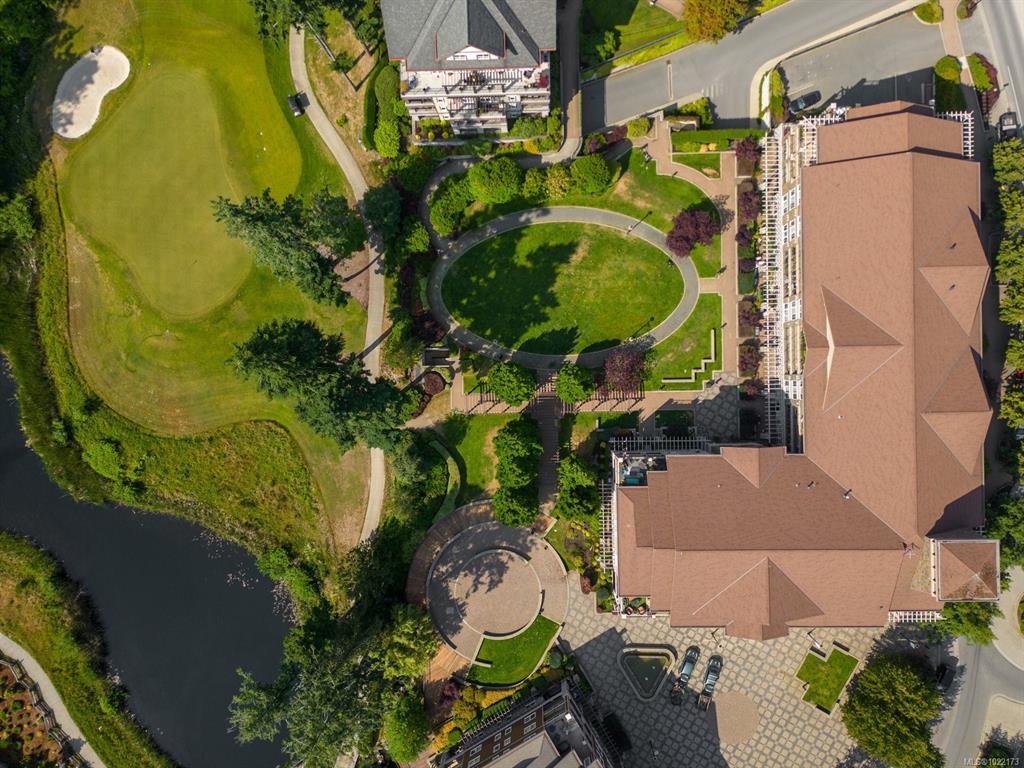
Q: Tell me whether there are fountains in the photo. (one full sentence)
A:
Yes, this view includes a fountain.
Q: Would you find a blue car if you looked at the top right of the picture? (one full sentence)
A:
No, at the top right of the picture there is no blue car.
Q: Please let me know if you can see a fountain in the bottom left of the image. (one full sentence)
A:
No, no fountain can be made out in the bottom left of the image.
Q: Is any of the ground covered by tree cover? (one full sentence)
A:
Yes, the picture does contain tree cover.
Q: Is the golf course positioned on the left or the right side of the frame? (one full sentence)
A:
You can find the golf course on the left side of the picture.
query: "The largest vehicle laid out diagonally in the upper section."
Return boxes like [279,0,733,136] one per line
[788,84,825,113]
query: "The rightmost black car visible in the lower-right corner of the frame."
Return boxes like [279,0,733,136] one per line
[939,657,963,693]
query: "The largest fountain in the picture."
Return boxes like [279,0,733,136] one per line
[617,642,680,706]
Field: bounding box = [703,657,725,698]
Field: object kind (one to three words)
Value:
car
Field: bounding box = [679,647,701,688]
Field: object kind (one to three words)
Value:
car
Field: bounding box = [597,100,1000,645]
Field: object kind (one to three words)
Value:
building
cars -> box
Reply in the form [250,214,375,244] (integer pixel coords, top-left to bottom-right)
[1000,108,1024,146]
[788,84,825,113]
[939,657,963,693]
[703,657,725,698]
[679,647,701,688]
